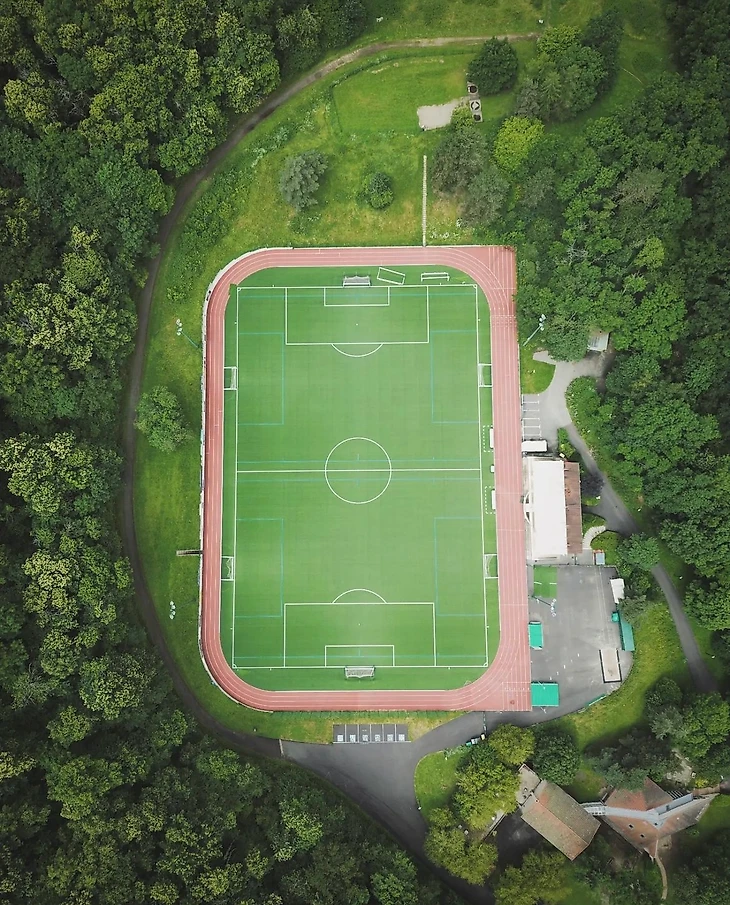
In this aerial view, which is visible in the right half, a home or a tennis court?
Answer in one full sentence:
It is a home that can be seen in the right half.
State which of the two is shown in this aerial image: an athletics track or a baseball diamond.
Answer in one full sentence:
I can see an athletics track in this picture.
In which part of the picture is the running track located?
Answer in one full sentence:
You can find the running track in the center area of the picture.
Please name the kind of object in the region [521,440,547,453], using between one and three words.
building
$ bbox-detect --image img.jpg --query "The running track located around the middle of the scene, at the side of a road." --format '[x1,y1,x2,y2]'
[201,246,531,711]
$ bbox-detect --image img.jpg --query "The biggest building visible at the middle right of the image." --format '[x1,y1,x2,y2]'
[522,456,582,558]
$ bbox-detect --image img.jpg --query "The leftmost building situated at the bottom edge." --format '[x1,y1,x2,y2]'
[511,763,601,861]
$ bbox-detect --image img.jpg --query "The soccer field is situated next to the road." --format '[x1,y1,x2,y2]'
[220,265,499,691]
